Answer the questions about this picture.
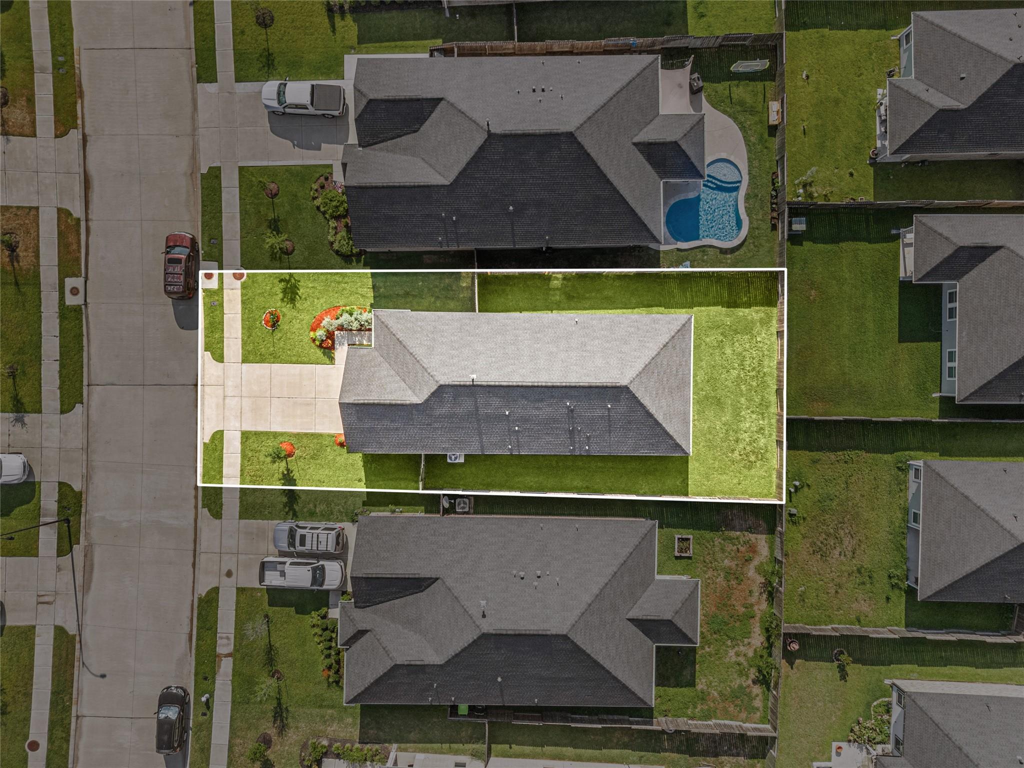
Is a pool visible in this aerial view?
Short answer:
Yes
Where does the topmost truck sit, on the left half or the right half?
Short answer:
left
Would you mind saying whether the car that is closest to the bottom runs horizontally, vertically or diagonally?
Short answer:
vertically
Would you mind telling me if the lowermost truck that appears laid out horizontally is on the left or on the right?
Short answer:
left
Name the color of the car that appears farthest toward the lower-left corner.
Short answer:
black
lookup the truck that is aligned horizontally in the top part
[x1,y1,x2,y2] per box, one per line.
[263,78,348,117]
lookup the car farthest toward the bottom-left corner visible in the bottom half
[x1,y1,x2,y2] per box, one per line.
[155,684,190,753]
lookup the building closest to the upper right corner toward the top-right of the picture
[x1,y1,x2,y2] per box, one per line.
[883,9,1024,160]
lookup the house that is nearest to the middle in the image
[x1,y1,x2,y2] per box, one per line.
[339,310,694,456]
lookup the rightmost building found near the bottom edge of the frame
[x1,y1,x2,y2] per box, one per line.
[874,679,1024,768]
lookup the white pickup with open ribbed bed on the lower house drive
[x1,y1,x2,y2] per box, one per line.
[258,555,347,592]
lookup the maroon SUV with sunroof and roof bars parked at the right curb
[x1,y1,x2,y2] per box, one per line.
[161,233,198,301]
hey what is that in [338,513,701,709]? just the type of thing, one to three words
house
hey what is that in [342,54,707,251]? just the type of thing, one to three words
building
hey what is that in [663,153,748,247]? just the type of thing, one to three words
swimming pool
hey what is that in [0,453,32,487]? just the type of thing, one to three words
car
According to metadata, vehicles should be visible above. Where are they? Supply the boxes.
[161,233,198,301]
[0,453,32,487]
[258,555,347,592]
[155,684,190,753]
[263,78,348,117]
[275,521,349,556]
